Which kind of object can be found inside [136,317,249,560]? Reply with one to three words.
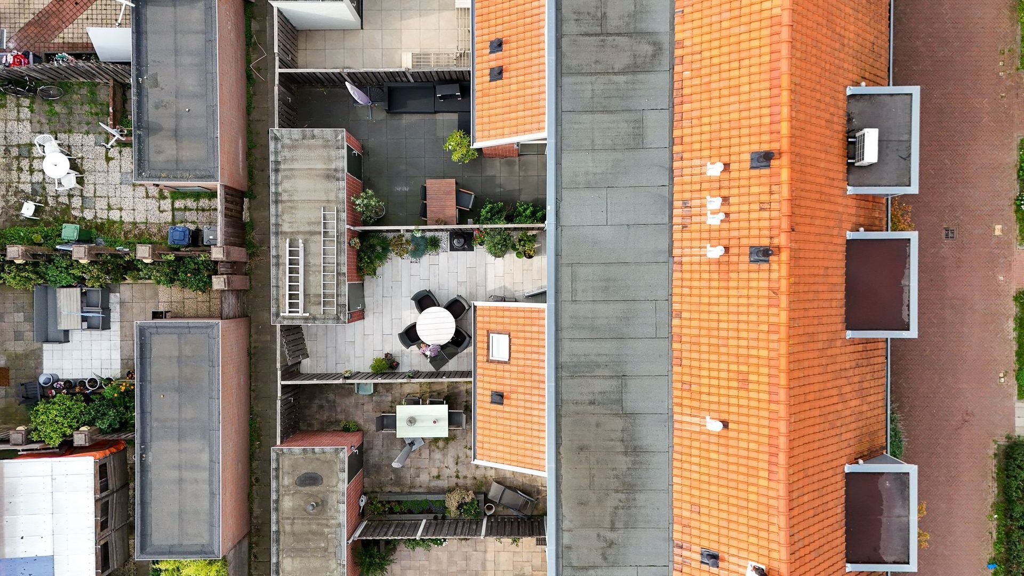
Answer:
shed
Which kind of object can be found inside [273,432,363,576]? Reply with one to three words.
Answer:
shed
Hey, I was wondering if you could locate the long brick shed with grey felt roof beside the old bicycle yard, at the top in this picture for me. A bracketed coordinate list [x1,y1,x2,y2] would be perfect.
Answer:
[132,0,247,191]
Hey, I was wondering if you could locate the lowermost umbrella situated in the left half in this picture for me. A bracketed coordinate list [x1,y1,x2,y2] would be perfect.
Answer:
[392,437,425,467]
